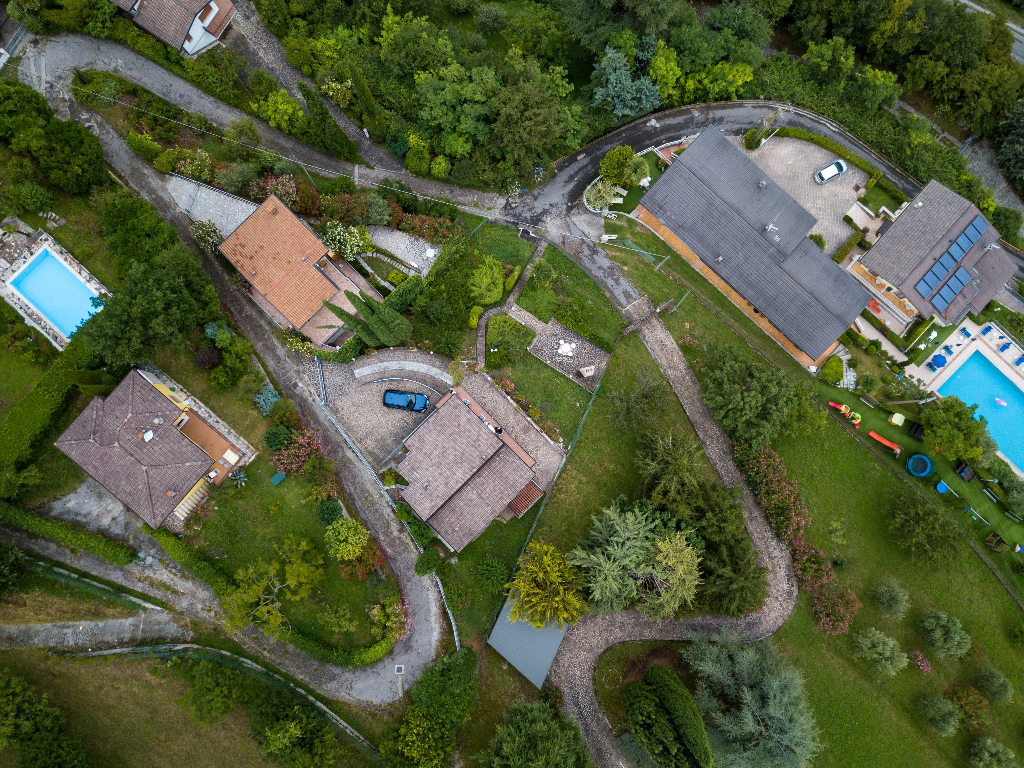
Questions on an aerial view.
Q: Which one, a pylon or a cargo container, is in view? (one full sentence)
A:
Looking from above, you can make out a pylon.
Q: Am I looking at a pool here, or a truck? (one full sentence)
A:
Visible in the photo is a pool.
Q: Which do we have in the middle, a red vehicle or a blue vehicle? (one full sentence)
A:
The one visible in the middle is a blue vehicle.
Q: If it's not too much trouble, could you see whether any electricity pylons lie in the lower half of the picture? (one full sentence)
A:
No, I can find no electricity pylon in the lower half of the picture.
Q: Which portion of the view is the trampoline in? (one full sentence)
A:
The trampoline is in the right part of the image.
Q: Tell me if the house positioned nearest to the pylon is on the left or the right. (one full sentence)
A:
The house positioned nearest to the pylon appears in the right half of the scene.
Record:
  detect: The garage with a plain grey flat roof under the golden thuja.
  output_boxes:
[489,584,568,688]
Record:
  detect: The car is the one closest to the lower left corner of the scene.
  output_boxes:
[383,389,428,413]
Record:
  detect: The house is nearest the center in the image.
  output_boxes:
[396,381,544,553]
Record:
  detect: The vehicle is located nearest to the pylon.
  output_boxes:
[809,155,852,188]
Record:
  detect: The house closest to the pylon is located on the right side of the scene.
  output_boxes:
[638,123,873,367]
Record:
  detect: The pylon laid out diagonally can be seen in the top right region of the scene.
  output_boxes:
[751,81,815,145]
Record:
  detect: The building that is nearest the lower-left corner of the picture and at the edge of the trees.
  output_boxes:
[53,367,248,530]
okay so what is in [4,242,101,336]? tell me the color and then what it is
blue swimming pool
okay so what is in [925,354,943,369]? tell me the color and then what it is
blue umbrella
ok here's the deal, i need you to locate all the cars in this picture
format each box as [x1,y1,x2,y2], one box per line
[383,389,428,413]
[809,155,852,188]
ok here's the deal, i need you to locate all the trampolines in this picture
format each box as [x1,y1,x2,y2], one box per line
[905,454,938,477]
